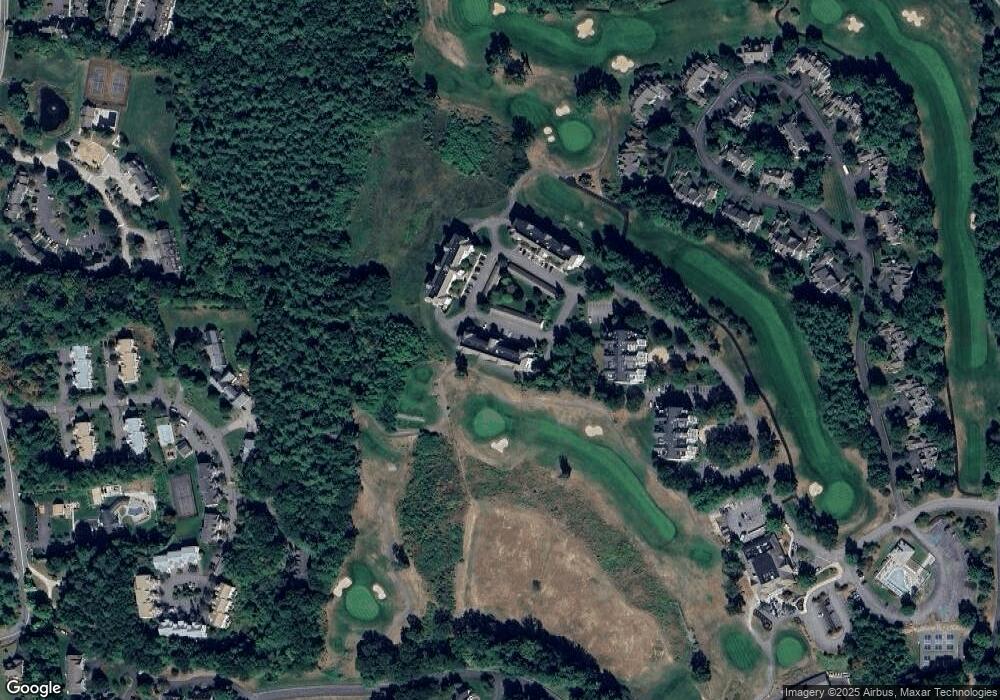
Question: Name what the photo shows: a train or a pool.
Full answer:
Looking from above, you can make out a pool.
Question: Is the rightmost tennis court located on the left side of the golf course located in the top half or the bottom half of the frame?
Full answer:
The rightmost tennis court located on the left side of the golf course is in the bottom half of the image.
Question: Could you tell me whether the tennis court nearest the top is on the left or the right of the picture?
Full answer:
The tennis court nearest the top sits on the left side.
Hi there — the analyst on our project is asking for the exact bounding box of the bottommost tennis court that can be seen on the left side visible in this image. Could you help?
[171,473,198,517]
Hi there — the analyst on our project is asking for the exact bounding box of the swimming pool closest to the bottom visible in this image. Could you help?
[876,538,934,595]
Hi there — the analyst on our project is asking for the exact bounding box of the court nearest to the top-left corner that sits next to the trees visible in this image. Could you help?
[84,61,131,105]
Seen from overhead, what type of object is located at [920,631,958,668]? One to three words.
sports court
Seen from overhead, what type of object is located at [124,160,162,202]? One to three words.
building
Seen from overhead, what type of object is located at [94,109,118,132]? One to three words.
swimming pool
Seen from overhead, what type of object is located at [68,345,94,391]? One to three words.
house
